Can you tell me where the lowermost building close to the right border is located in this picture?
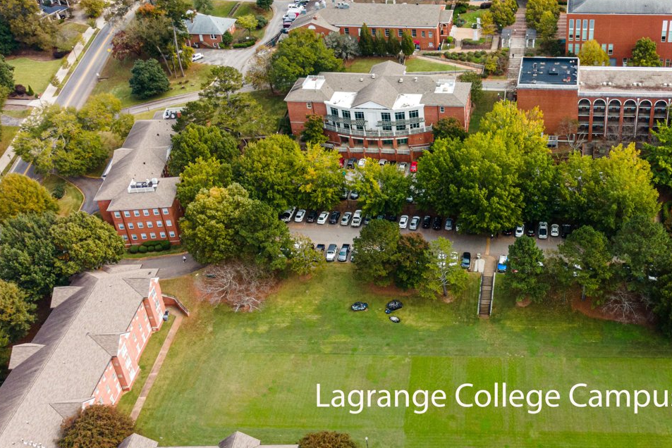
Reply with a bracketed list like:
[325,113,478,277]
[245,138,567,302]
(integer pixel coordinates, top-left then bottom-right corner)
[517,64,672,139]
